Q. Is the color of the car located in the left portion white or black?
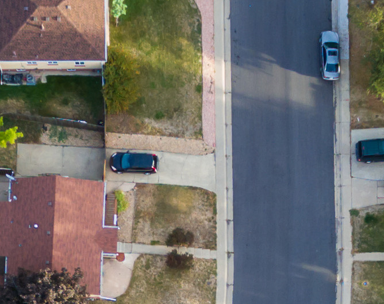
black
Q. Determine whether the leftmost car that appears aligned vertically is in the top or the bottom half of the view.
top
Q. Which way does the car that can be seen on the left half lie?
horizontally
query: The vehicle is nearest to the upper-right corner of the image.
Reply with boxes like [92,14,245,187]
[319,31,342,81]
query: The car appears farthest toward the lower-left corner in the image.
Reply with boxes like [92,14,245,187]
[109,149,159,175]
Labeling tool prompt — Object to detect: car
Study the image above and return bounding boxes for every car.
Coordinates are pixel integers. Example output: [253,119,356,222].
[319,31,342,81]
[355,139,384,161]
[109,149,159,175]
